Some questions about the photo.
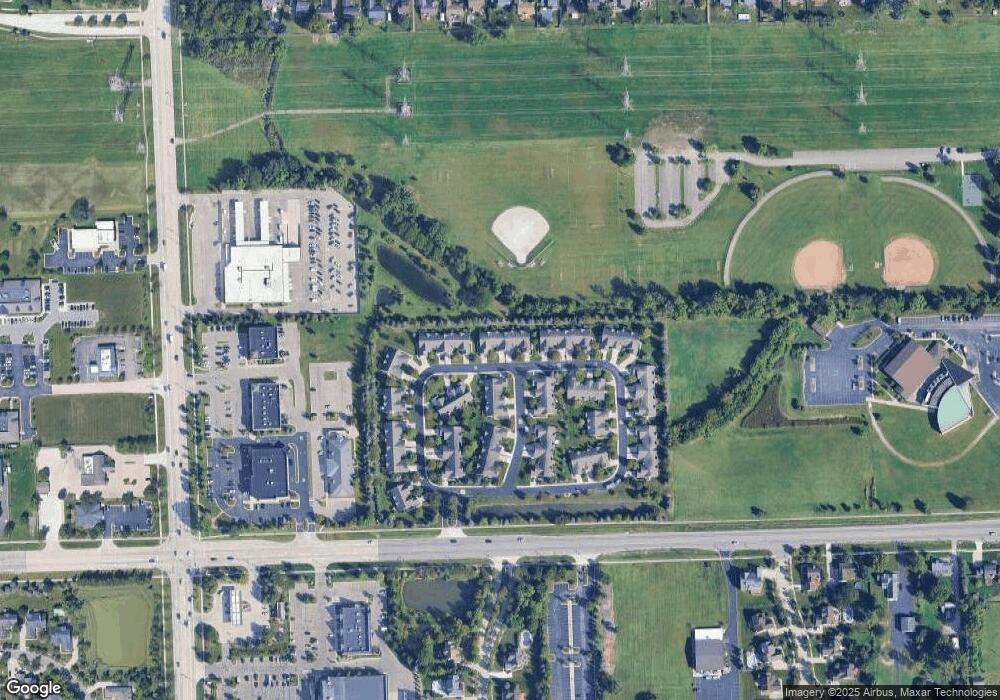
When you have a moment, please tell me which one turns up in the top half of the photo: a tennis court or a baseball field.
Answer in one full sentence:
It is a baseball field that can be seen in the top half of the photo.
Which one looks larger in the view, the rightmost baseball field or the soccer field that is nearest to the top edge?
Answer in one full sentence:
The baseball field covers a greater area than the soccer field.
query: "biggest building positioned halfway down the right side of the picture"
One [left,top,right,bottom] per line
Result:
[885,341,975,436]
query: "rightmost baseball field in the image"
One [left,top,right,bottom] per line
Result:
[868,186,990,292]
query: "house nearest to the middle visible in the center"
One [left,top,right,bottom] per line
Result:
[479,333,530,358]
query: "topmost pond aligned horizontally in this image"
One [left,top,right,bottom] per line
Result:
[472,501,651,517]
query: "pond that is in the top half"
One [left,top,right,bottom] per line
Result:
[375,241,454,309]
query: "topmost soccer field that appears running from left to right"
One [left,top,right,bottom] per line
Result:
[446,152,553,198]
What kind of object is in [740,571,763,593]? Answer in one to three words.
house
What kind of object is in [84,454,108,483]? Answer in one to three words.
building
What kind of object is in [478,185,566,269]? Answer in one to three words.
baseball field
